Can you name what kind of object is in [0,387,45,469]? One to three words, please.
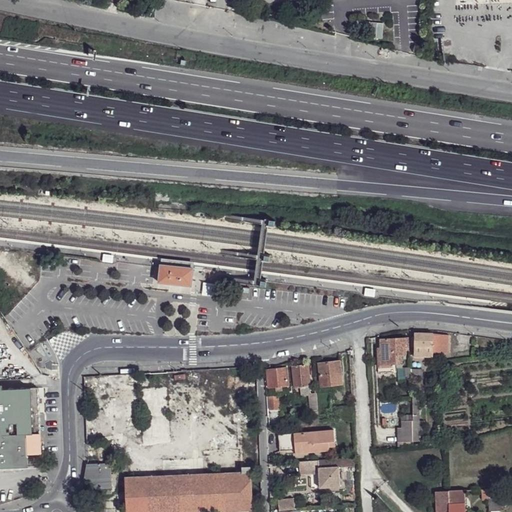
building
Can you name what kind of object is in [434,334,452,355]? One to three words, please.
house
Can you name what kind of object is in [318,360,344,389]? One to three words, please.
house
